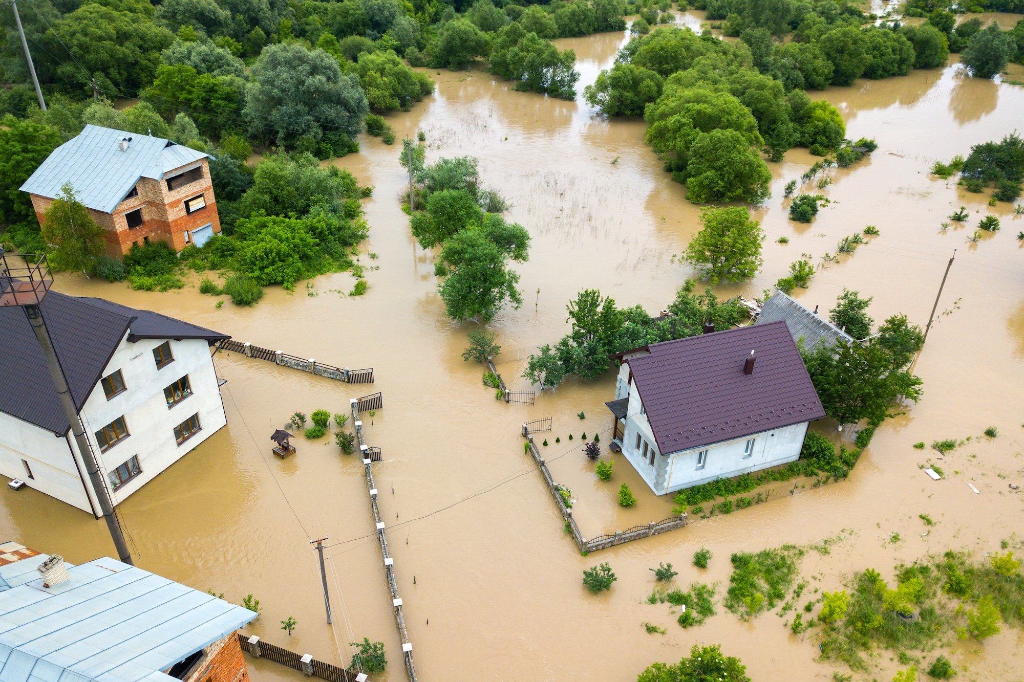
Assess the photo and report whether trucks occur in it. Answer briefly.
No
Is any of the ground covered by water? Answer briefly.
Yes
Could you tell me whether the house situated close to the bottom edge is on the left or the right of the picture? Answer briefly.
left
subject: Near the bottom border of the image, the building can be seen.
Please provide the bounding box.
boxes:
[0,537,260,682]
